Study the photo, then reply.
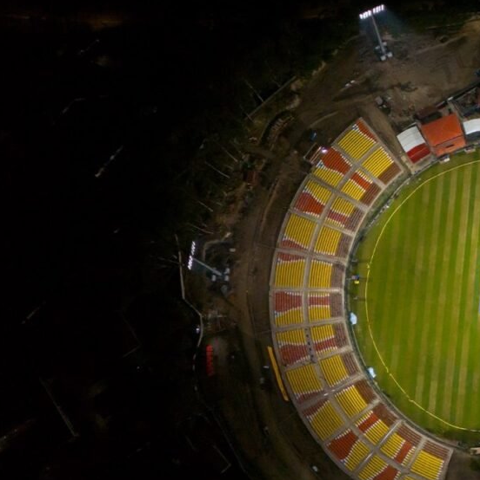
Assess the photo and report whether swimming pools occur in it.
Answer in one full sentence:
No, the photo shows no swimming pool.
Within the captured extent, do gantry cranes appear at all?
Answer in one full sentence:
No, this view has no gantry crane in it.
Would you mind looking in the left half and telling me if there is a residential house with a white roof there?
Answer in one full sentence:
No, there's no residential house with a white roof to be seen in the left half.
